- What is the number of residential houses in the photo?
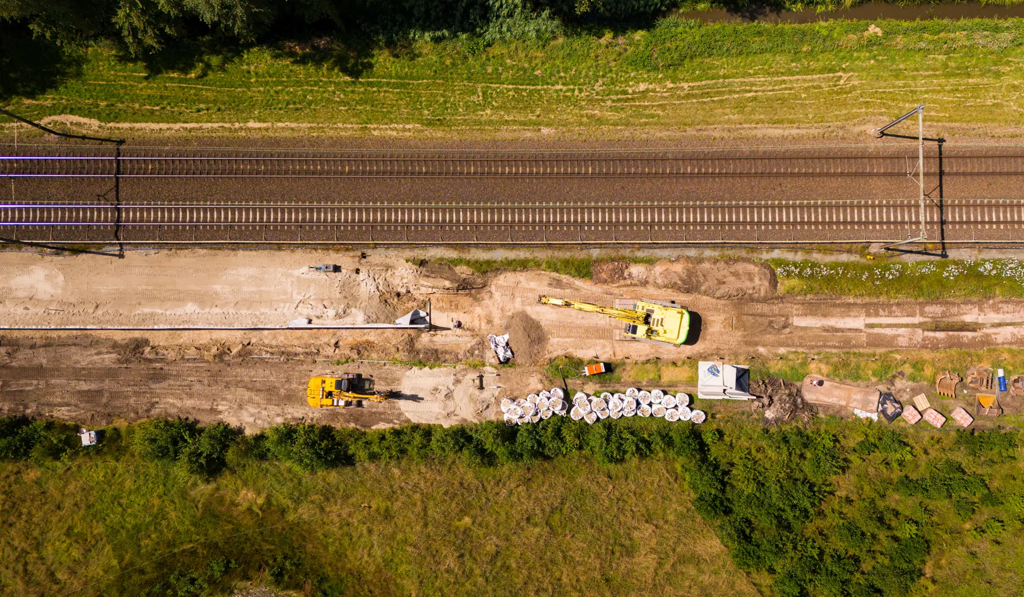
0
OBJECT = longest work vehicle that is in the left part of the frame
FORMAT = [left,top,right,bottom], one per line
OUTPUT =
[306,375,395,409]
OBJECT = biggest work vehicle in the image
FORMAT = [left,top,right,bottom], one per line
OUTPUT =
[535,294,693,349]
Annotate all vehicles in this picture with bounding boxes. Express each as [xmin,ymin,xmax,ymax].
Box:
[306,375,395,409]
[535,294,693,349]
